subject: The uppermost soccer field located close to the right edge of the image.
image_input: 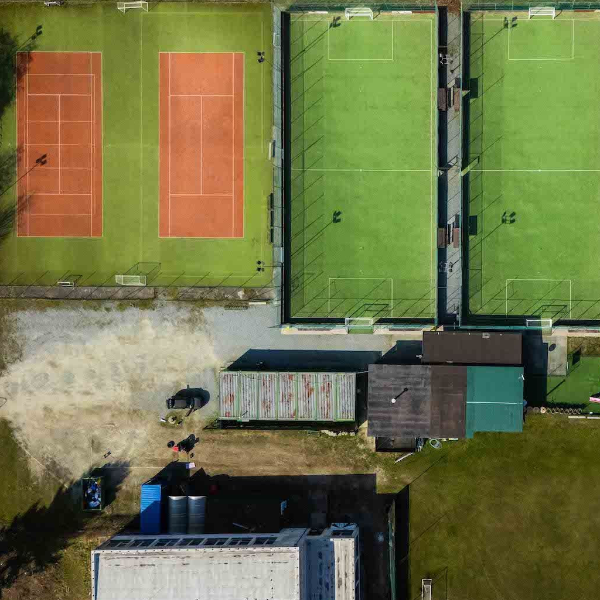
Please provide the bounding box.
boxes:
[465,10,600,324]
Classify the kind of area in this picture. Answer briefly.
sports ground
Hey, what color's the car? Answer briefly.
black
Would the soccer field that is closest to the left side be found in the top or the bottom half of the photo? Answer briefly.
top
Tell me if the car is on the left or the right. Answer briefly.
left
